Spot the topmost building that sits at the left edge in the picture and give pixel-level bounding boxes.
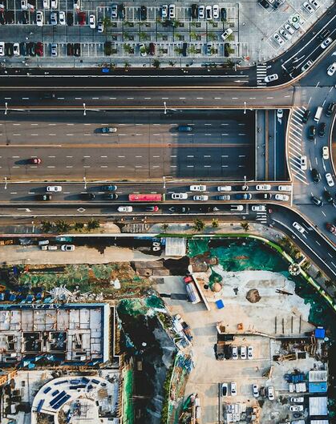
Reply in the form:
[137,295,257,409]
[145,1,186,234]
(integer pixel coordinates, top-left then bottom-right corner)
[0,302,113,364]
